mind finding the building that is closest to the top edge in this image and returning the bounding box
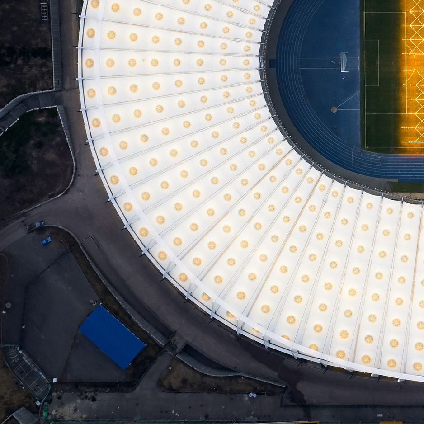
[79,301,152,370]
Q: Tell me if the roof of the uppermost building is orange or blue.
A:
blue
